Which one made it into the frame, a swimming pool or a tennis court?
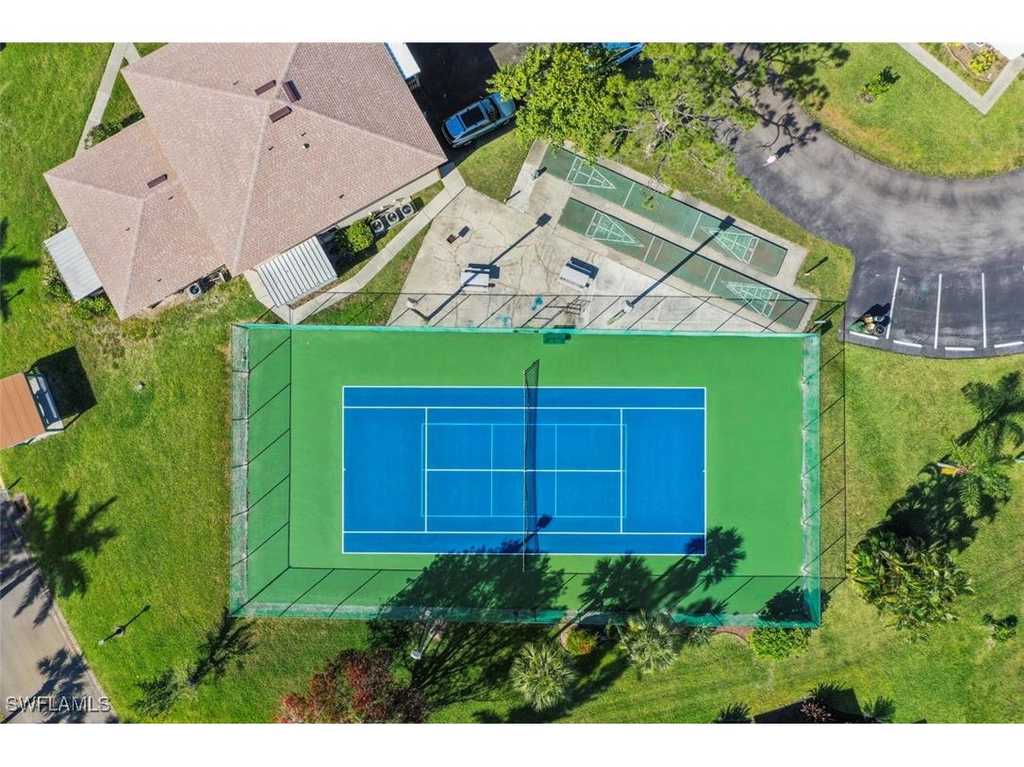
tennis court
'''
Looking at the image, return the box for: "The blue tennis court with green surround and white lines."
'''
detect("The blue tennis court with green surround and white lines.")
[230,329,804,614]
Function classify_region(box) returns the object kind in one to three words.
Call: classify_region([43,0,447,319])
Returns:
house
